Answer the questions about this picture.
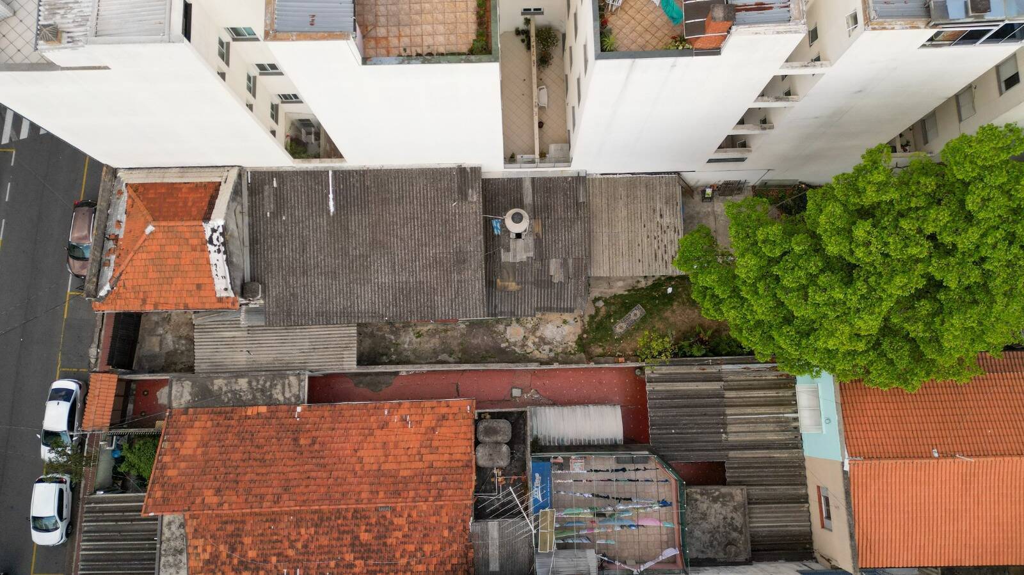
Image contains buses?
No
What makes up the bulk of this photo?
buildings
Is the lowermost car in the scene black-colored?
No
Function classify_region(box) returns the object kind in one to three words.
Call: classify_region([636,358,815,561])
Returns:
shed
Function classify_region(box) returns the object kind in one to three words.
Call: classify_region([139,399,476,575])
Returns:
house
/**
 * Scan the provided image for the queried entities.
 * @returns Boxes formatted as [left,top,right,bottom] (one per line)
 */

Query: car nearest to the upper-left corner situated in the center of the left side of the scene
[61,202,97,277]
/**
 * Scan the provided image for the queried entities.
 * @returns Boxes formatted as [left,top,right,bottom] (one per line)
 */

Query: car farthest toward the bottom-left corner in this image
[26,473,79,547]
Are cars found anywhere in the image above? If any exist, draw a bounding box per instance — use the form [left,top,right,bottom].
[36,378,92,463]
[61,202,97,277]
[26,473,79,547]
